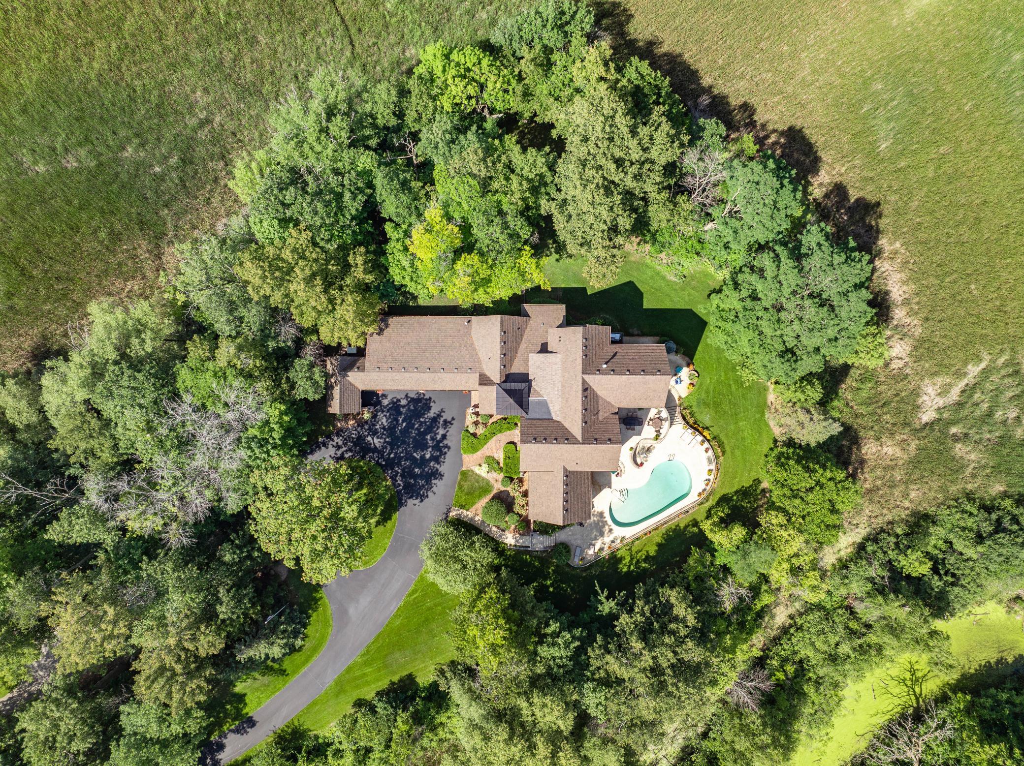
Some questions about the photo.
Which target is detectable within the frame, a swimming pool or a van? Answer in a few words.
swimming pool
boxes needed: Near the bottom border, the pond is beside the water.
[798,591,1024,766]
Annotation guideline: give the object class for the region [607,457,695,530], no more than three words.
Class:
swimming pool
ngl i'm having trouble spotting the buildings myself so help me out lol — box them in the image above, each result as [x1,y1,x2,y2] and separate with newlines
[326,304,672,526]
